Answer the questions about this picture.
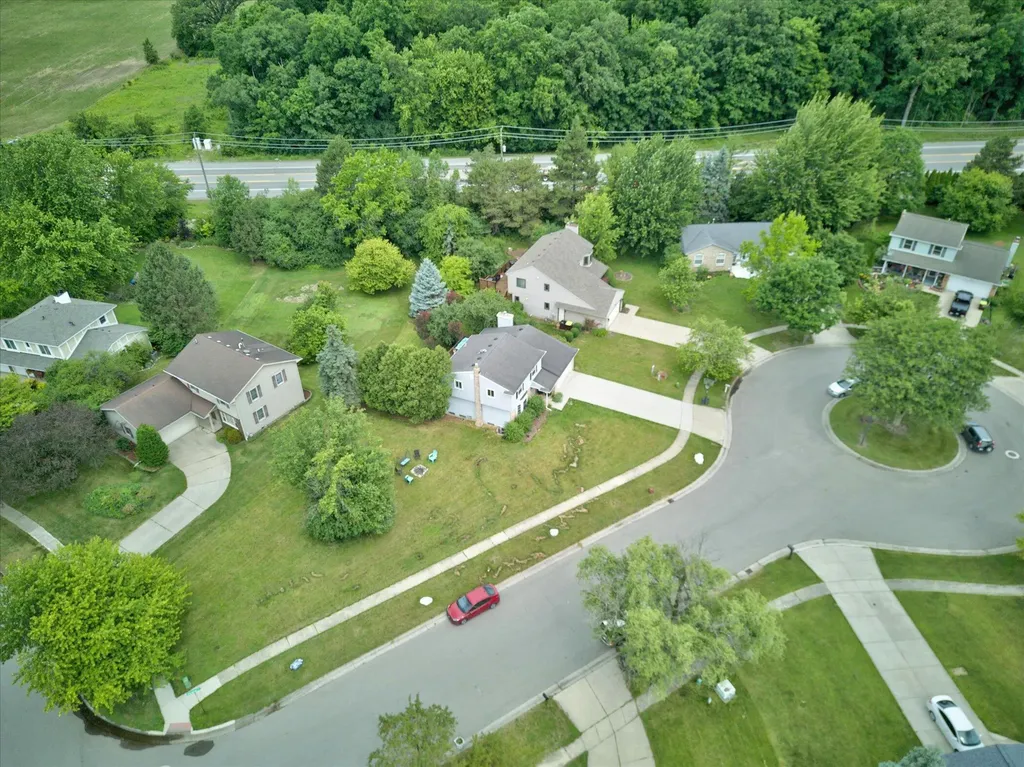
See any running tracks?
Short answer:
No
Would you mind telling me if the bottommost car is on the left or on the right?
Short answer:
right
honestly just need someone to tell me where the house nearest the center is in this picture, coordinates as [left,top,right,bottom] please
[440,308,579,427]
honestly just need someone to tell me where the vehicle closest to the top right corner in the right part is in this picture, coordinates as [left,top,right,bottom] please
[950,291,972,317]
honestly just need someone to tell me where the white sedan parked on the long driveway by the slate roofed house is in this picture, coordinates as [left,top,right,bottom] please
[926,689,987,753]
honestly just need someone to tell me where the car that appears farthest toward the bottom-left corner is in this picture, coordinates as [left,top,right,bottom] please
[448,582,504,627]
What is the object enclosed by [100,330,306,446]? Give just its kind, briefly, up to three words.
house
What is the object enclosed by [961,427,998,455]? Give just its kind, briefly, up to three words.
car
